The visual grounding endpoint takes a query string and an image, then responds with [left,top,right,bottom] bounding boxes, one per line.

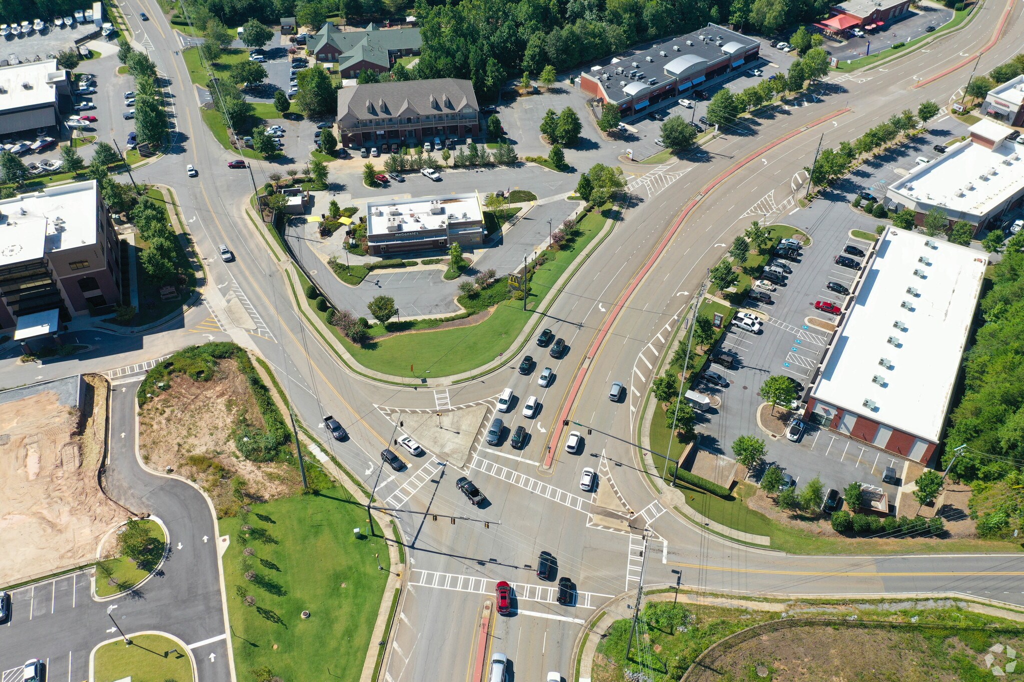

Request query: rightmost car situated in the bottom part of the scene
[881,462,898,489]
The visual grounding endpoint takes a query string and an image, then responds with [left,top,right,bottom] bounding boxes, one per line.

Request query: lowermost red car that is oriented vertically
[496,581,511,613]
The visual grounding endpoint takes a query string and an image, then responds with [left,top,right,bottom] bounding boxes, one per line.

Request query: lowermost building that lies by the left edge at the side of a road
[0,180,122,328]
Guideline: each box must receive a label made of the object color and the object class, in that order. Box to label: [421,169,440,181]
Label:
white vehicle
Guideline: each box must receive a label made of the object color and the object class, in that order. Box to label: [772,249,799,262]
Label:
black vehicle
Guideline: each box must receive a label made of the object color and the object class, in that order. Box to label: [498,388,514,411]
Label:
white car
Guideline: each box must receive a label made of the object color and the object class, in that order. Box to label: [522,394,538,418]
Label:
white car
